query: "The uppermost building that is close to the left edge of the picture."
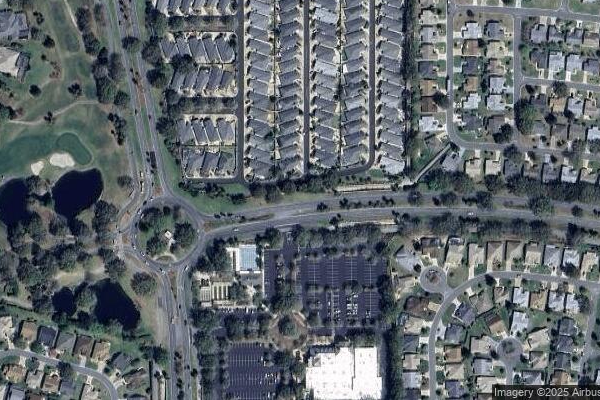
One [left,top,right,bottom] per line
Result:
[0,9,26,42]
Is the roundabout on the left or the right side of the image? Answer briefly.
left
